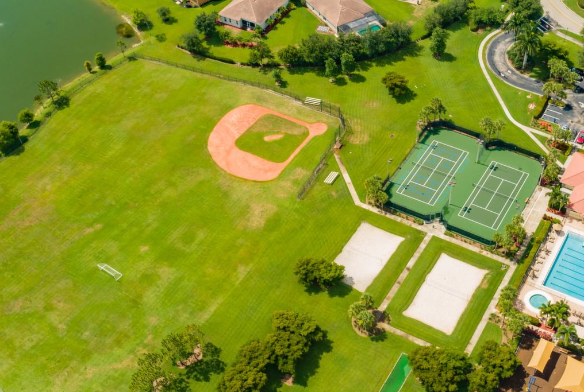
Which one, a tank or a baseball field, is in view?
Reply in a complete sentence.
There is a baseball field in the scene.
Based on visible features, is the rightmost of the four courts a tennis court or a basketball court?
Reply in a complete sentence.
It turns out the rightmost of the four courts is a tennis court.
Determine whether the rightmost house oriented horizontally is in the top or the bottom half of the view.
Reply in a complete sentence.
The top half of the photo is where the rightmost house oriented horizontally is.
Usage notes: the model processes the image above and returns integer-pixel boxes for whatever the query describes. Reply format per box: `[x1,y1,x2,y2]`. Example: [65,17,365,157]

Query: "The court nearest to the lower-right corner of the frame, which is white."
[403,253,489,335]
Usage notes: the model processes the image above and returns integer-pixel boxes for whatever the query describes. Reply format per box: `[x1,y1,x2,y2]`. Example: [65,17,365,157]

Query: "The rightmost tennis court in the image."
[458,162,529,230]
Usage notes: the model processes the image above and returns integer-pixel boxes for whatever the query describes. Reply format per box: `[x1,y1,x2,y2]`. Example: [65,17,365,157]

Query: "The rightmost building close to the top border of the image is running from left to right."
[305,0,391,43]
